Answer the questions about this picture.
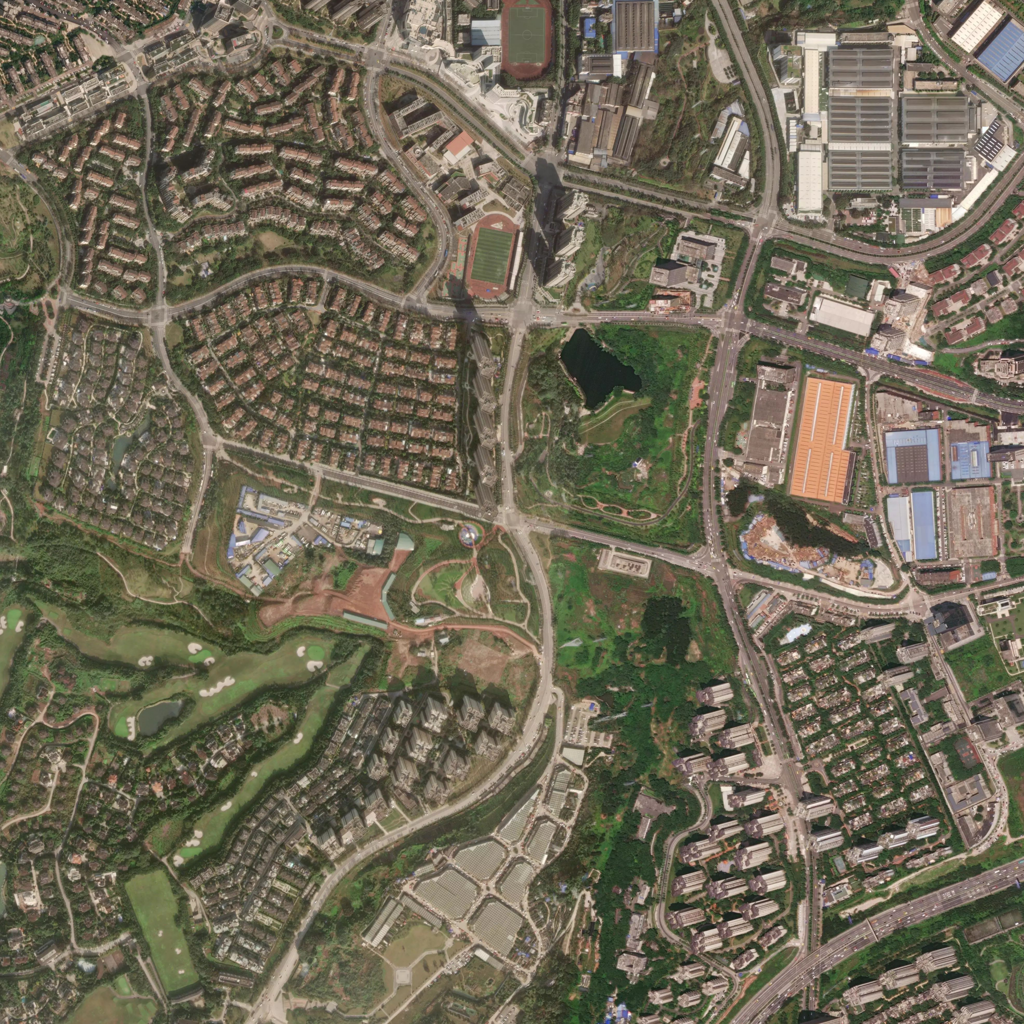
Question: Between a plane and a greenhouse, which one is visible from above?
greenhouse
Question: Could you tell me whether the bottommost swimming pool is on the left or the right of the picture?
right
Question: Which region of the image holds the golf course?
bottom left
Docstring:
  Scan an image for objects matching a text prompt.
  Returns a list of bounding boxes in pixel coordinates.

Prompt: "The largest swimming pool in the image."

[780,623,813,645]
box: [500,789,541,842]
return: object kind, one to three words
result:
greenhouse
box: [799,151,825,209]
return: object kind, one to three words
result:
shed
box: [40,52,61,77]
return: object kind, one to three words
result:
building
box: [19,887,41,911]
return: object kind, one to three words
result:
house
